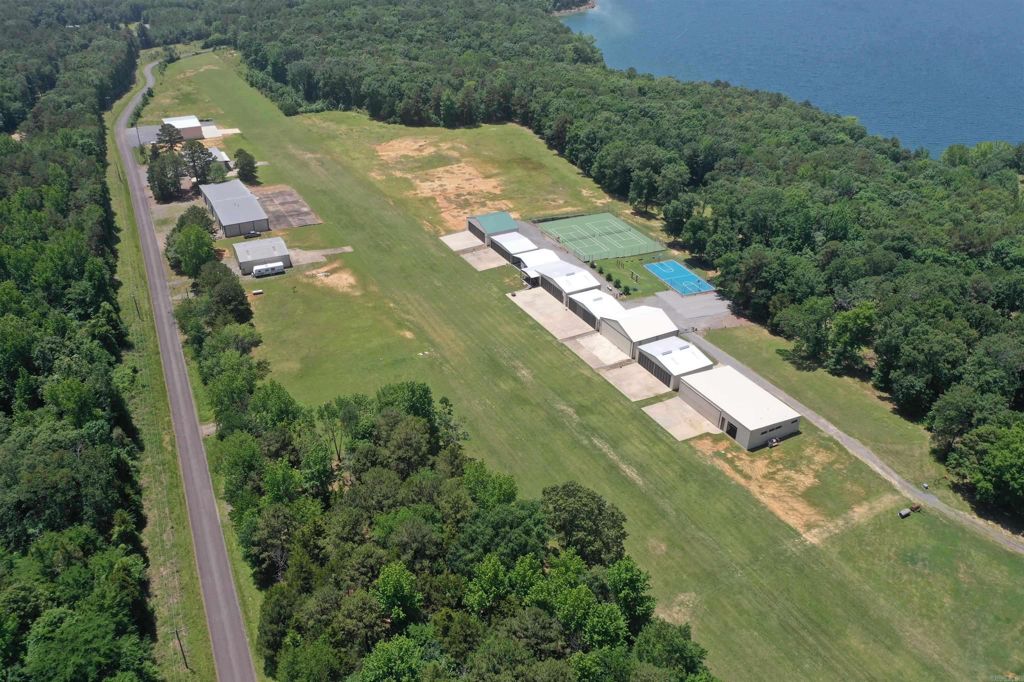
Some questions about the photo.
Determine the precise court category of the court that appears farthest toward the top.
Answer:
tennis court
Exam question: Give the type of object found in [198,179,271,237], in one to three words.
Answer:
hangar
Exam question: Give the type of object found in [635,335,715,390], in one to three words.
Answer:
hangar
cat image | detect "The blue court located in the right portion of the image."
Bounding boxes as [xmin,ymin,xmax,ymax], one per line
[644,260,714,295]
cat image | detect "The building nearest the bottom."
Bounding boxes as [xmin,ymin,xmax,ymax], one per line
[679,365,804,450]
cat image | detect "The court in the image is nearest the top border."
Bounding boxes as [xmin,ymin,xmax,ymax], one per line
[534,212,667,262]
